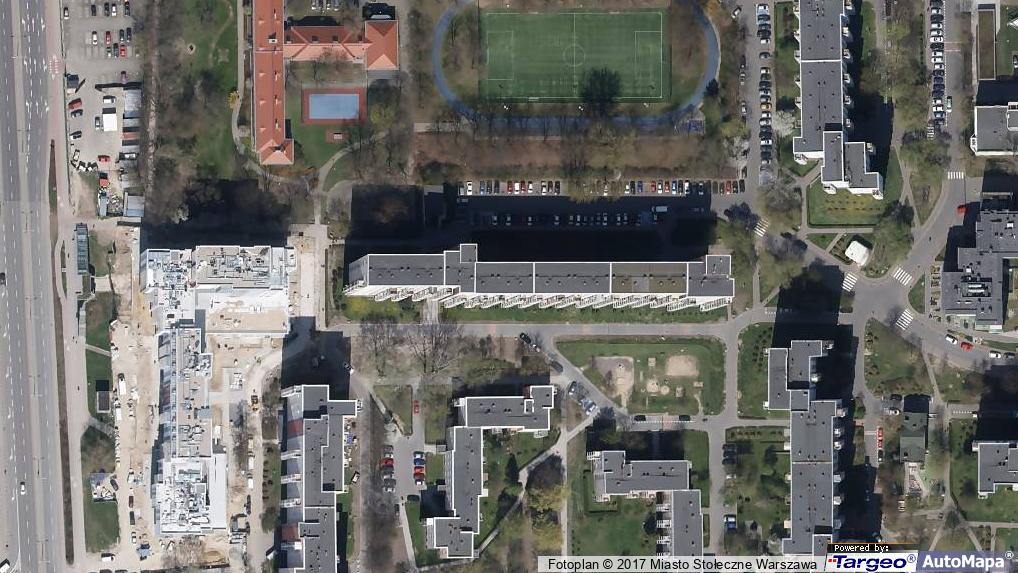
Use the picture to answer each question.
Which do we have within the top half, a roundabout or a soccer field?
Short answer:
soccer field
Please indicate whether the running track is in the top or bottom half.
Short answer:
top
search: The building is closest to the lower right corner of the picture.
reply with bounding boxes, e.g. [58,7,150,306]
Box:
[957,444,1018,504]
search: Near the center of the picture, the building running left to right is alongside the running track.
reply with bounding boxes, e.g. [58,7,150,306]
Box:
[354,245,734,311]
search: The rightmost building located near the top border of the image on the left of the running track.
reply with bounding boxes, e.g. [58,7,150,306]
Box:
[252,0,398,165]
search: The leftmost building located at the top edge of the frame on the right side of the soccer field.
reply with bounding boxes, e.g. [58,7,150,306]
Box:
[778,0,879,202]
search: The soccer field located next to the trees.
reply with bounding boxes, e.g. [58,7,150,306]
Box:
[479,8,672,102]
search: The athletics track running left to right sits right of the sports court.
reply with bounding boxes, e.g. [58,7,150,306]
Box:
[432,0,718,126]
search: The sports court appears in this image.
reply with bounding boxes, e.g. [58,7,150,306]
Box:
[301,88,366,123]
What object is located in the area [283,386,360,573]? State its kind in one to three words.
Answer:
building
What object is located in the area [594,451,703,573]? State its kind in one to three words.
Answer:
building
